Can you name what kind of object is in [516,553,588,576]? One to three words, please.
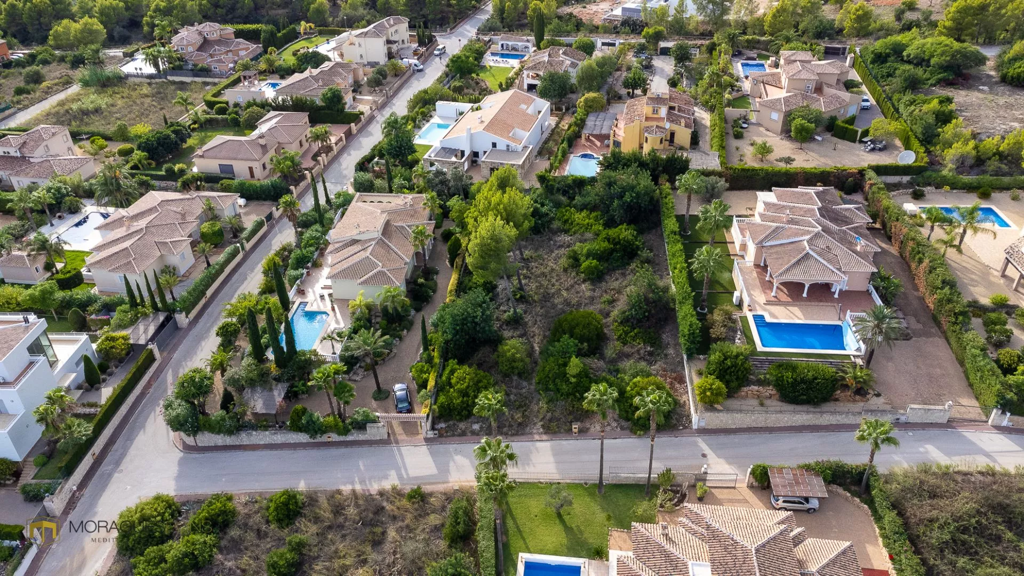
swimming pool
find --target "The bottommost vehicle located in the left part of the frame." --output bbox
[391,380,413,411]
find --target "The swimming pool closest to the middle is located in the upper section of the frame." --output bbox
[567,151,600,175]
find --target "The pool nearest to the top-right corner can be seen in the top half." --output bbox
[920,205,1010,229]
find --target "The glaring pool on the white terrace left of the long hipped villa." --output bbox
[53,210,111,244]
